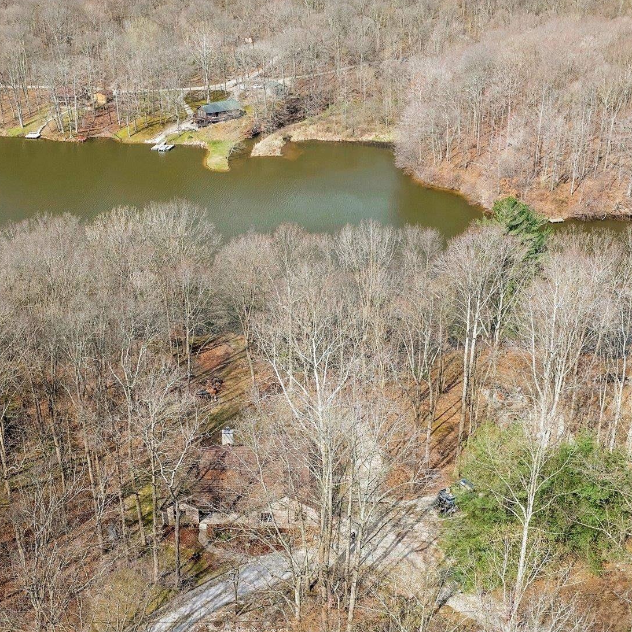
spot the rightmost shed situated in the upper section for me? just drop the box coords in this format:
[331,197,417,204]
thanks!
[260,79,289,97]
